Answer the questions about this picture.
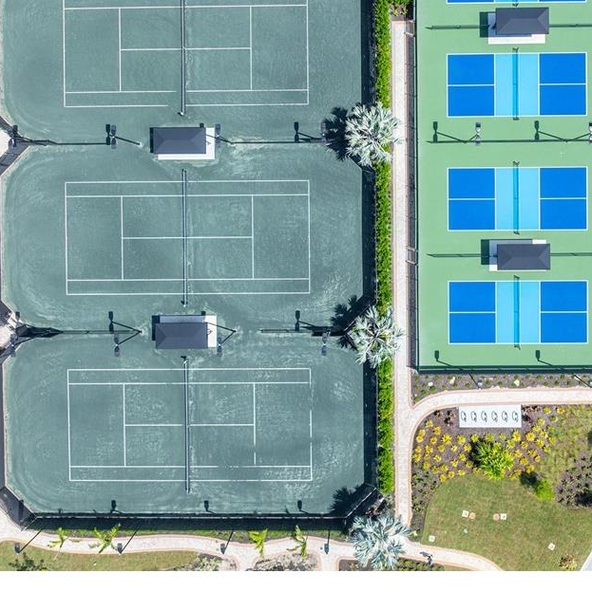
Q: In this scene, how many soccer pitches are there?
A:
zero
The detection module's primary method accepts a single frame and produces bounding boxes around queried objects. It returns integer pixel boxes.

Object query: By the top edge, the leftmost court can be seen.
[0,0,374,143]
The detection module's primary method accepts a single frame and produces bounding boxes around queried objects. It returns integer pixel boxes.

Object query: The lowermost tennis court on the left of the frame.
[4,332,376,517]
